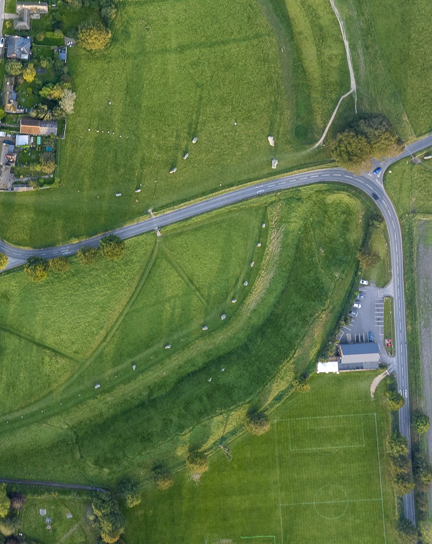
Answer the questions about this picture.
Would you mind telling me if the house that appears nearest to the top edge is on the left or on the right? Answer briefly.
left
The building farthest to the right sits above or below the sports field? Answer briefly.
above it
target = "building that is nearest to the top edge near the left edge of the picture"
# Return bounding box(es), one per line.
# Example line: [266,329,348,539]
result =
[16,3,48,30]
